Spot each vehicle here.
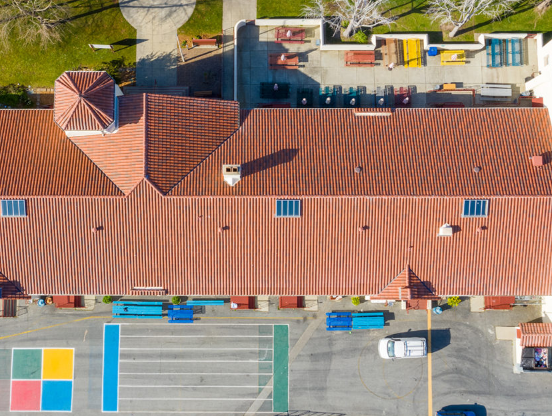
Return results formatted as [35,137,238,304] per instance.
[378,337,429,360]
[434,409,476,416]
